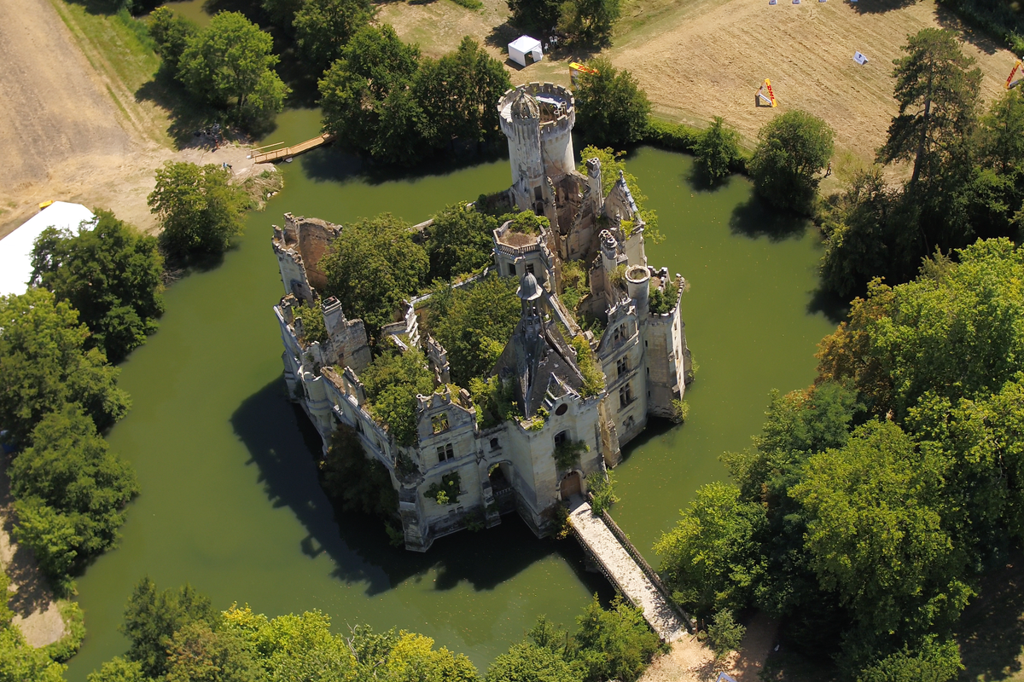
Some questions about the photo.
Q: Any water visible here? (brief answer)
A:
Yes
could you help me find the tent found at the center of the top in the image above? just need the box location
[508,36,542,66]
